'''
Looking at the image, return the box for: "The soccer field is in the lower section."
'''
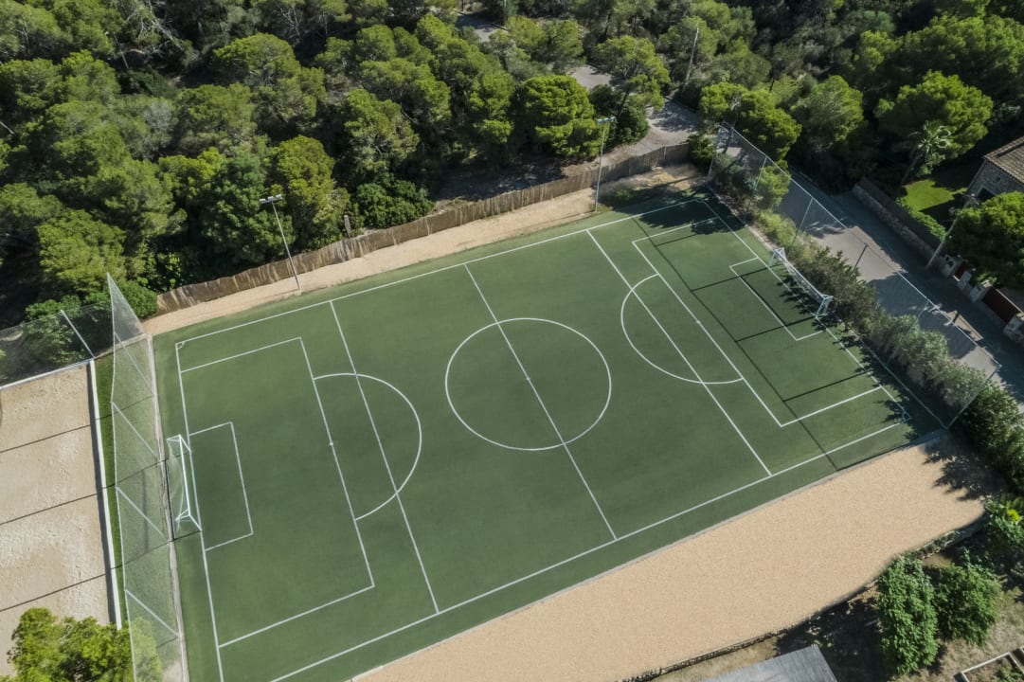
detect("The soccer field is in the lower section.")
[152,179,947,682]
